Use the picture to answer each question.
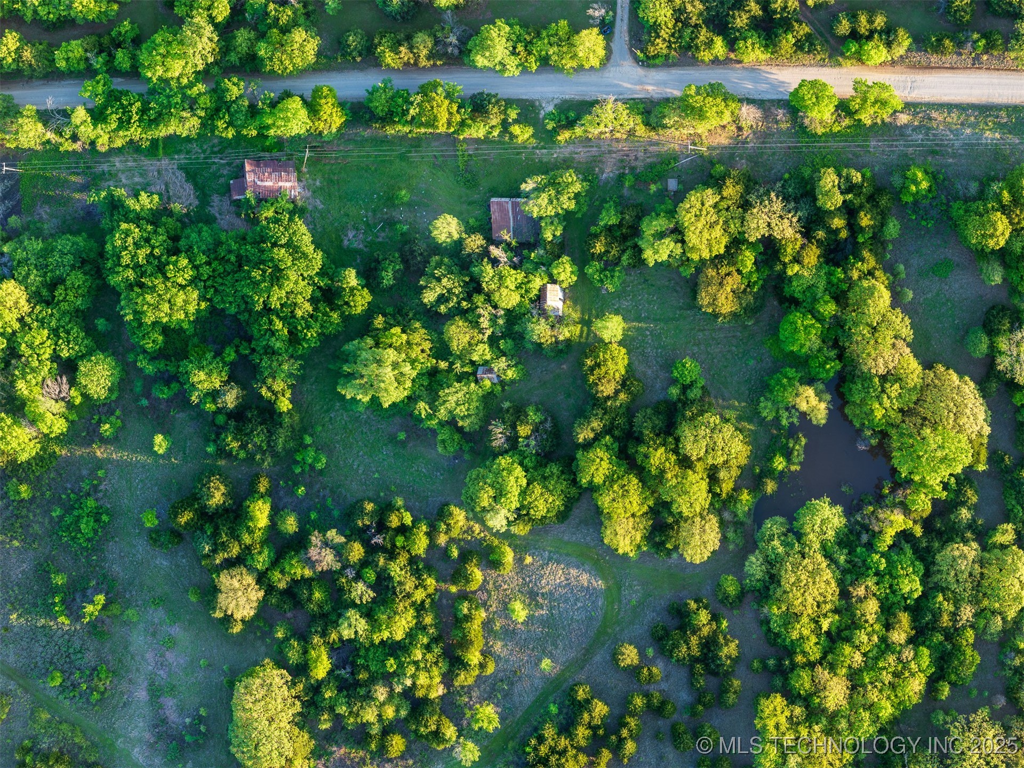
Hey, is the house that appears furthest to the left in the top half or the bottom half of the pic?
top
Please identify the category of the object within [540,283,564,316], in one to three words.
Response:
shed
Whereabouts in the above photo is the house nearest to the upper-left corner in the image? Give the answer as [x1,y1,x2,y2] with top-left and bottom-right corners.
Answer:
[231,158,299,202]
